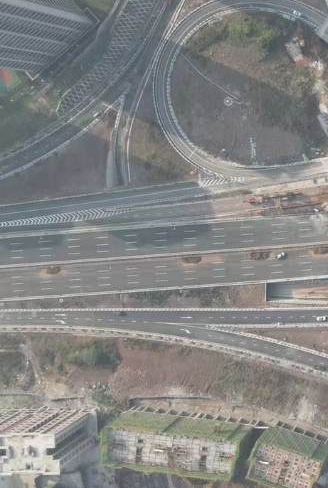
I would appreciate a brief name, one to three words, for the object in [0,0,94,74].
building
